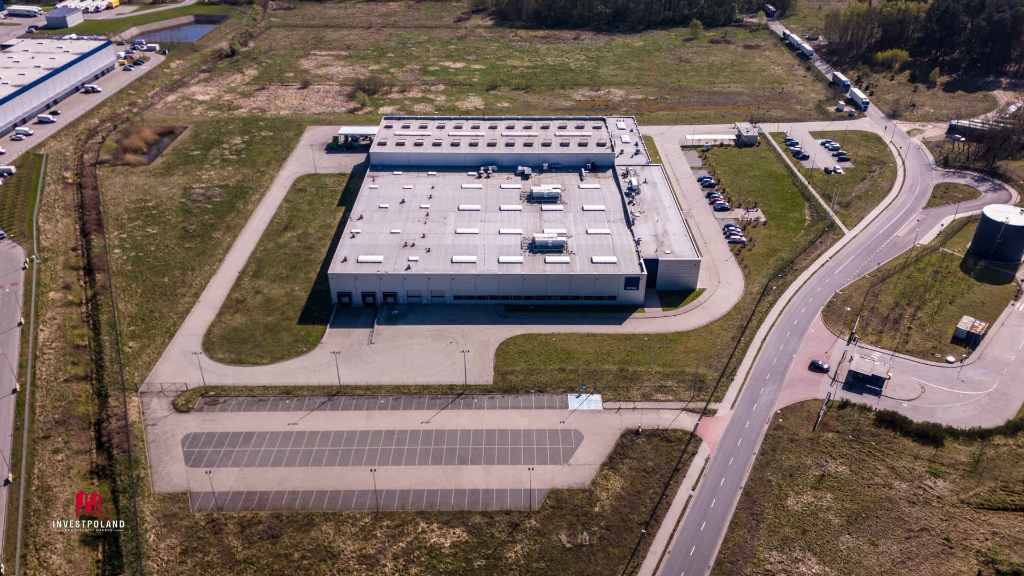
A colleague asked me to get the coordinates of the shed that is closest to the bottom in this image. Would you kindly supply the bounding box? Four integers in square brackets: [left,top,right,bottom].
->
[847,351,900,391]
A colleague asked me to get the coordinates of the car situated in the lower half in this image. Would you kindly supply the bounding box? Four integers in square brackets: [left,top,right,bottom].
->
[808,360,830,372]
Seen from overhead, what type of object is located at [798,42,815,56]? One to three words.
vehicle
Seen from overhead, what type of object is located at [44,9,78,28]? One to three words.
shed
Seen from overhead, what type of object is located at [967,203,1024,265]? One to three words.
water tank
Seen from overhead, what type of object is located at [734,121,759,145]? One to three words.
building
